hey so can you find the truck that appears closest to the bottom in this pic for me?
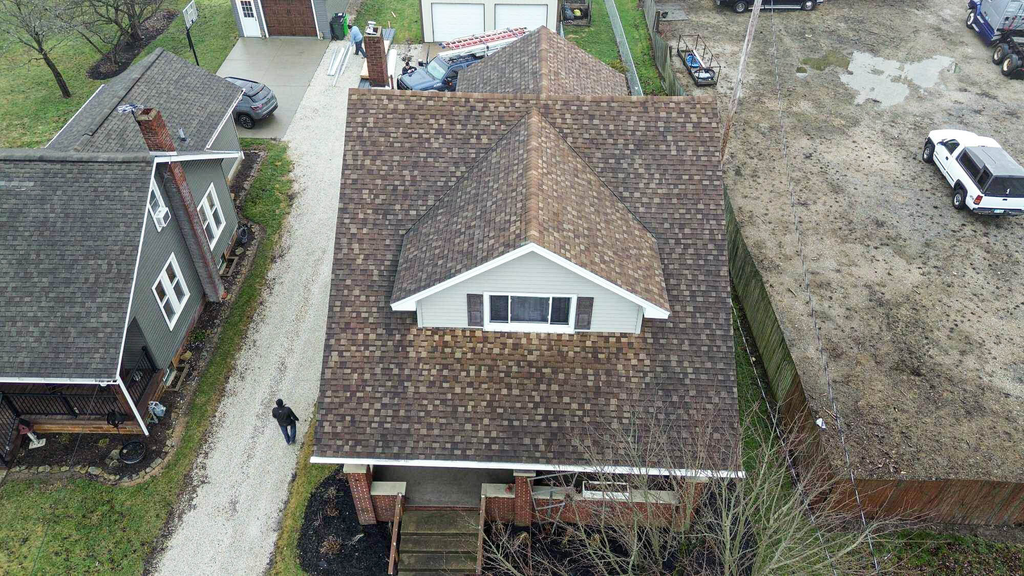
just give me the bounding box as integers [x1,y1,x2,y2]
[922,128,1024,221]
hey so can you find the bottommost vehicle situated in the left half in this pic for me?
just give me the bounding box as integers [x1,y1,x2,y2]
[228,76,284,129]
